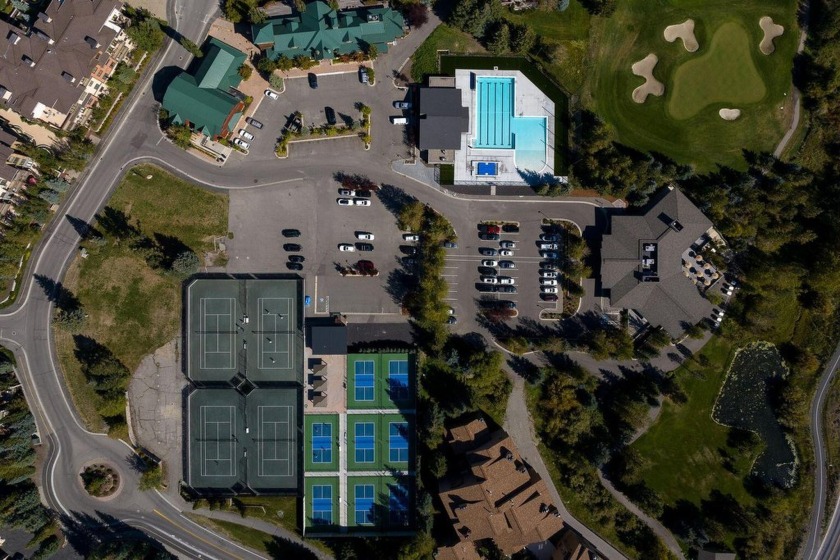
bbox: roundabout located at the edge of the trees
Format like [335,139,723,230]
[57,436,144,523]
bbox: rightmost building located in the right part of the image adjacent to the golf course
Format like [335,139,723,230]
[600,188,713,341]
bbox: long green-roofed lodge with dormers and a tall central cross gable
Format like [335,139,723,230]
[251,0,408,62]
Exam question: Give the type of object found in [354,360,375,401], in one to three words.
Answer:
sports court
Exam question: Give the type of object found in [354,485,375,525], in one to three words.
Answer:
sports court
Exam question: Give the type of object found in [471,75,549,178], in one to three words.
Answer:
swimming pool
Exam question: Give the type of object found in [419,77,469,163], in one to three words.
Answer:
building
